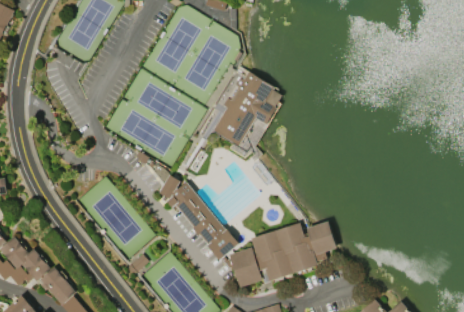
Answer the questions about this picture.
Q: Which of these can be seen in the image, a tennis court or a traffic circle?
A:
tennis court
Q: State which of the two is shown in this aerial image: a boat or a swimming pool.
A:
swimming pool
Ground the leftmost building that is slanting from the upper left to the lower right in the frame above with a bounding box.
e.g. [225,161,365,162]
[0,256,30,288]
